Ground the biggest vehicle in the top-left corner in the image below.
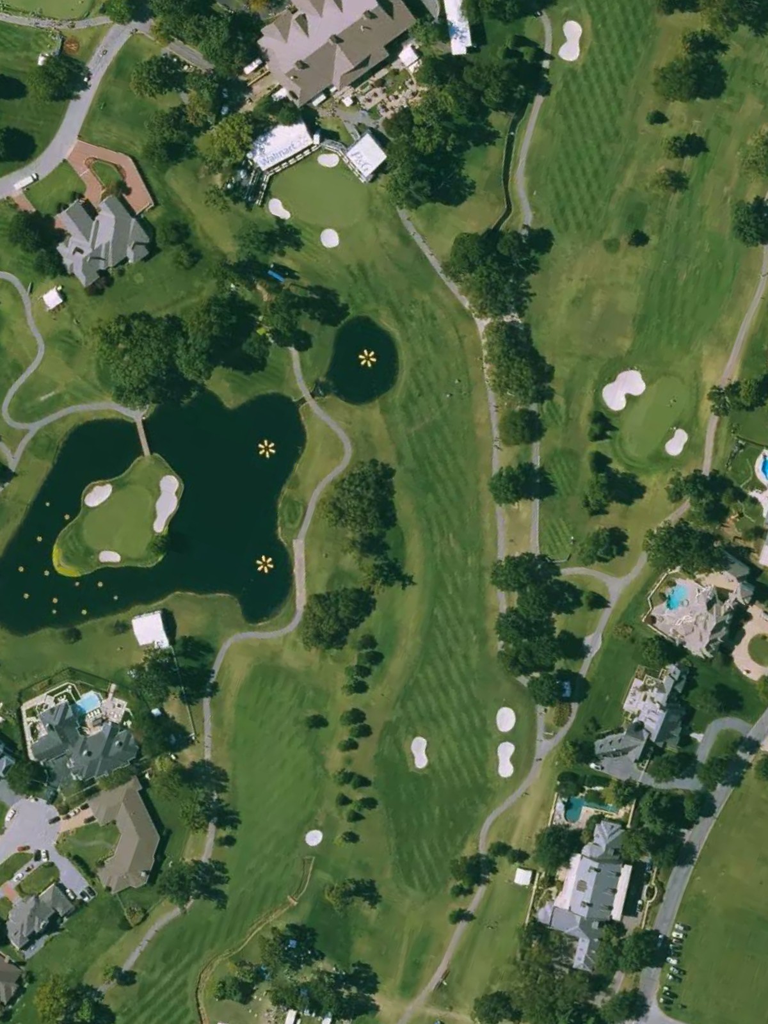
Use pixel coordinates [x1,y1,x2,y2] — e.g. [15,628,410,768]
[15,174,38,189]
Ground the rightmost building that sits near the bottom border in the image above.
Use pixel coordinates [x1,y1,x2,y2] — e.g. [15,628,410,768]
[540,820,633,974]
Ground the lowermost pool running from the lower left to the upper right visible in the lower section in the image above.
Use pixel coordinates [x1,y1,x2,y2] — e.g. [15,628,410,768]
[72,690,101,723]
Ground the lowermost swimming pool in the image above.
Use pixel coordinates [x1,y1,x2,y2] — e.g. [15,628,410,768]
[567,797,608,822]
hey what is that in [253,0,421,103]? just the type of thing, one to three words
building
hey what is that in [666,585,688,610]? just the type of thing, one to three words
swimming pool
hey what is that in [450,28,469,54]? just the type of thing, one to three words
tent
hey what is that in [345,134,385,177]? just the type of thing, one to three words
tent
